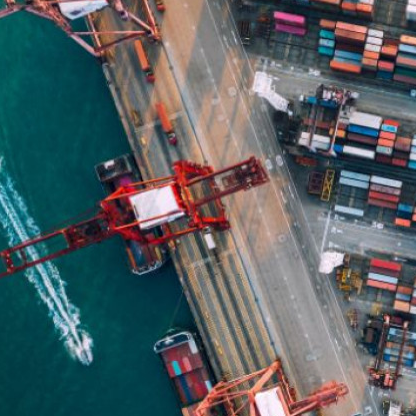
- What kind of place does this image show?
port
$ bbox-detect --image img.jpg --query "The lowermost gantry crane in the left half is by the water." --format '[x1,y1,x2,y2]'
[0,155,272,284]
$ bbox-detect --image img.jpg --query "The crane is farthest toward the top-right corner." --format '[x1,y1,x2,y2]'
[307,83,354,164]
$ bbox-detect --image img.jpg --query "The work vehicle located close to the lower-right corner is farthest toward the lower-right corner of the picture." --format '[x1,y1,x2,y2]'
[377,397,390,416]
